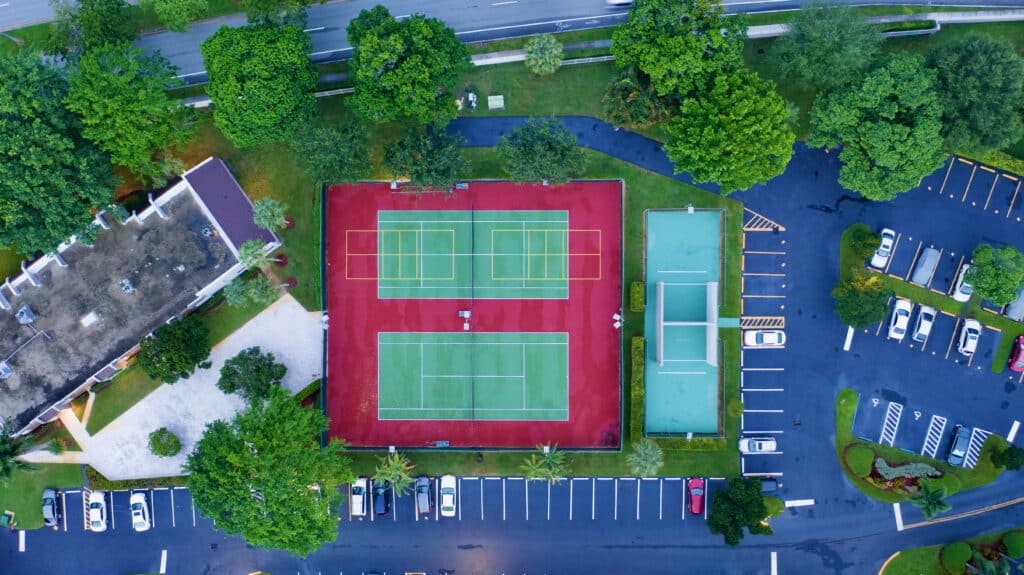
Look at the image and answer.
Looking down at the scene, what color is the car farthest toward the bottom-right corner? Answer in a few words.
blue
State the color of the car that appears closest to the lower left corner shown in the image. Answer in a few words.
blue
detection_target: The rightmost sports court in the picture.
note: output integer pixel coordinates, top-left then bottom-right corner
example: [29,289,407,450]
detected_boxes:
[646,212,720,432]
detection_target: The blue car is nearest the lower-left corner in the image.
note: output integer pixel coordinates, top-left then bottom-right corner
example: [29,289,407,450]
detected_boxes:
[39,488,61,527]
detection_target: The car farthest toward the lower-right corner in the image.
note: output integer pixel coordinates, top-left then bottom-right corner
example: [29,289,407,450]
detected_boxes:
[946,425,972,466]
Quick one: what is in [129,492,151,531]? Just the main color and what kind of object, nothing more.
white car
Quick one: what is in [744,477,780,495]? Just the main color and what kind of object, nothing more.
blue car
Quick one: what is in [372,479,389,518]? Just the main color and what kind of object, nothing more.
blue car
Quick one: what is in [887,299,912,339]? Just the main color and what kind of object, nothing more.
white car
